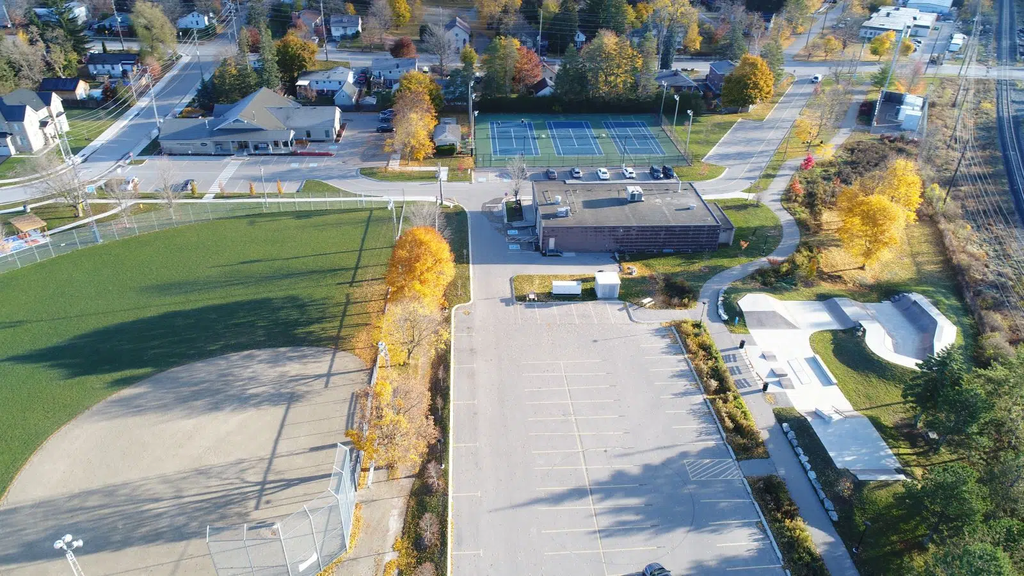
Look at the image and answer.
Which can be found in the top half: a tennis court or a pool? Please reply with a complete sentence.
The one visible in the top half is a tennis court.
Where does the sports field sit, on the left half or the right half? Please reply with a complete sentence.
The sports field sits on the left side.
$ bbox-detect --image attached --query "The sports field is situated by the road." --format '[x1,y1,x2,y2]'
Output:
[0,204,401,576]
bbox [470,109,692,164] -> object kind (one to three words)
tennis court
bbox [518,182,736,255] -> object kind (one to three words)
building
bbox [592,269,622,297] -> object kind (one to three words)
shed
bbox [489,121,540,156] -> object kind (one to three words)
tennis court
